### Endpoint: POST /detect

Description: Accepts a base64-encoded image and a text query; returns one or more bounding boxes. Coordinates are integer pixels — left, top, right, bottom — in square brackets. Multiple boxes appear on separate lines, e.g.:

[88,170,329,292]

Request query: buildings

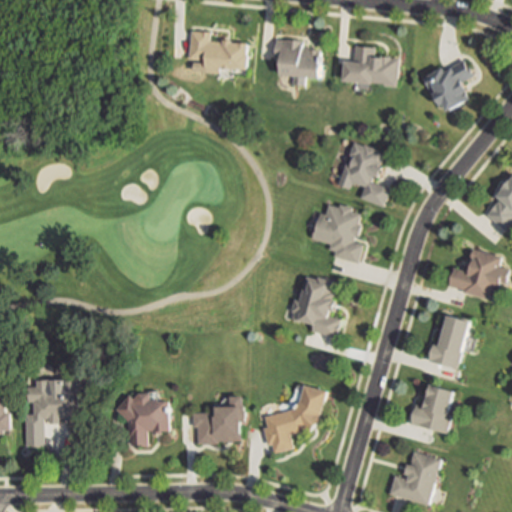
[341,45,401,92]
[314,203,366,264]
[190,30,250,80]
[409,386,454,432]
[274,39,327,88]
[486,176,512,232]
[264,386,328,453]
[26,380,67,448]
[290,274,342,334]
[336,142,390,209]
[193,396,245,445]
[120,392,174,447]
[427,314,479,368]
[389,453,448,505]
[0,398,12,434]
[449,250,510,298]
[423,59,476,112]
